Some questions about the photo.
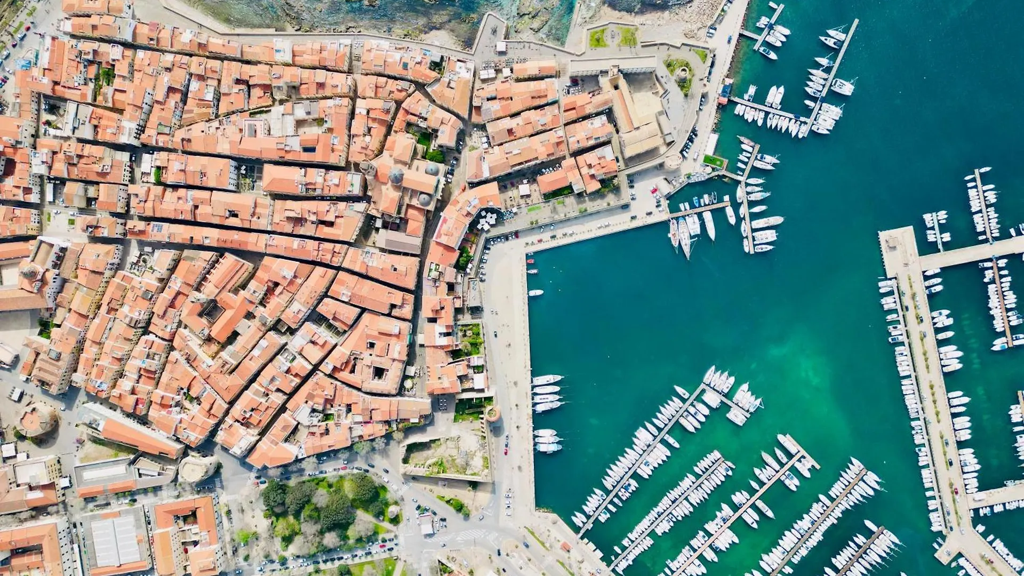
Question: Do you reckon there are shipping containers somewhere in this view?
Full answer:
No, the frame has no shipping container in it.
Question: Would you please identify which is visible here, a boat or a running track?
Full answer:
Visible in the photo is a boat.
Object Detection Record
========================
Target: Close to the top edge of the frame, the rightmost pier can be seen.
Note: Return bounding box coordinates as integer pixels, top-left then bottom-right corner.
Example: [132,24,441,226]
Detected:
[803,16,859,137]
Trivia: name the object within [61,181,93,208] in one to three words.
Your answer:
house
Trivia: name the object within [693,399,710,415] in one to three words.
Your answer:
boat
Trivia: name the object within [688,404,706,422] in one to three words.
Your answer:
boat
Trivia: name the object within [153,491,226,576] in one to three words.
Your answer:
building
